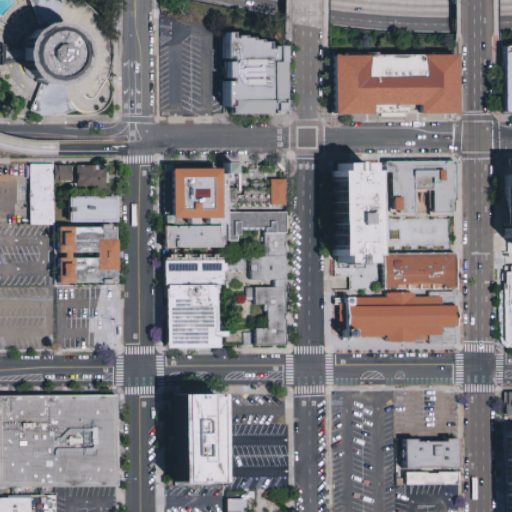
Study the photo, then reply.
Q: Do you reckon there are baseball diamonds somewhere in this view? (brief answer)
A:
No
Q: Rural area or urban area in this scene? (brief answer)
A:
urban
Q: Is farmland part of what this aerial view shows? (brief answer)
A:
No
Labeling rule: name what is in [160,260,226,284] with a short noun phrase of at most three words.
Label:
building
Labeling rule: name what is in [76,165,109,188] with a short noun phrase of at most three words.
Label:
house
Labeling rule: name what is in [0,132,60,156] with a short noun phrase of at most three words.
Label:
overpass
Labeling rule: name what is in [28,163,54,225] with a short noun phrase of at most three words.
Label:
building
